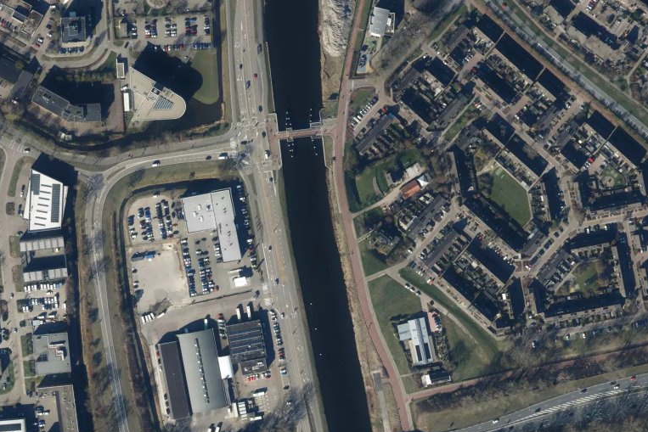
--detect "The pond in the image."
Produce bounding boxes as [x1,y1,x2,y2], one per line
[154,0,222,129]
